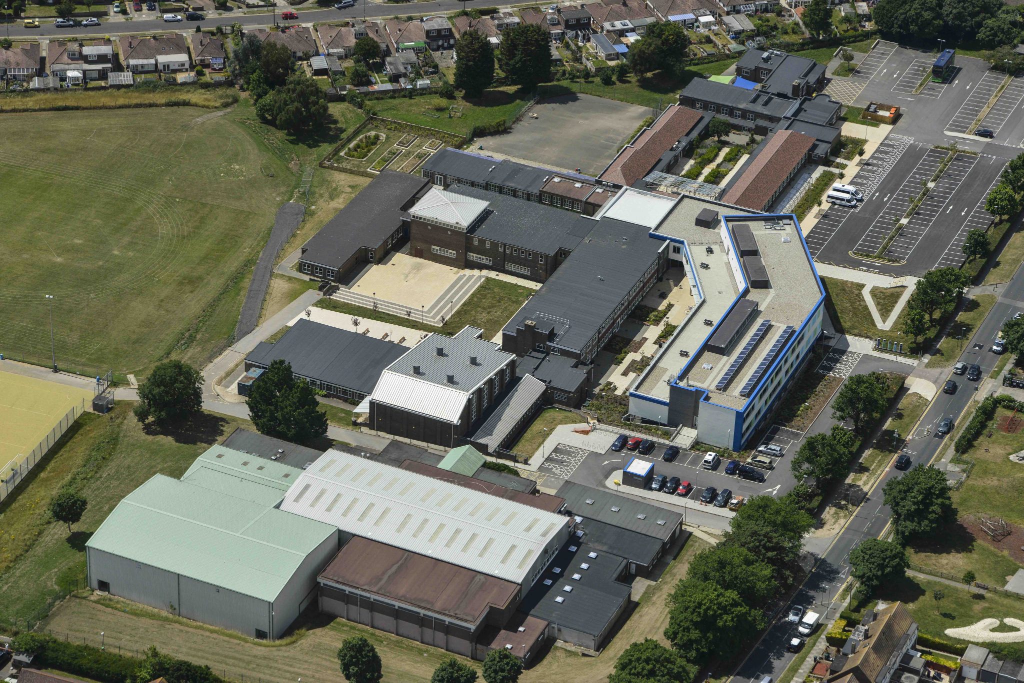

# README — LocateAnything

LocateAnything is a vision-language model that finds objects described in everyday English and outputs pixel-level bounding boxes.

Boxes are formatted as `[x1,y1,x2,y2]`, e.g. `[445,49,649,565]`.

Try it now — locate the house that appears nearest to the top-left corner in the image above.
[0,43,42,83]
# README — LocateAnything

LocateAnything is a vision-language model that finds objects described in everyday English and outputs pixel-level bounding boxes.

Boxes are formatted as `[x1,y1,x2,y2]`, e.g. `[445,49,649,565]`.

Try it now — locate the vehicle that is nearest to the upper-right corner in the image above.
[931,48,953,82]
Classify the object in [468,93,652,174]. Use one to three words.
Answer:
sports court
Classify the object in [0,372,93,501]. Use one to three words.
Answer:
sports field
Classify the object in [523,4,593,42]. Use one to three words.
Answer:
house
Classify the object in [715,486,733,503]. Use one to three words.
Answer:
car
